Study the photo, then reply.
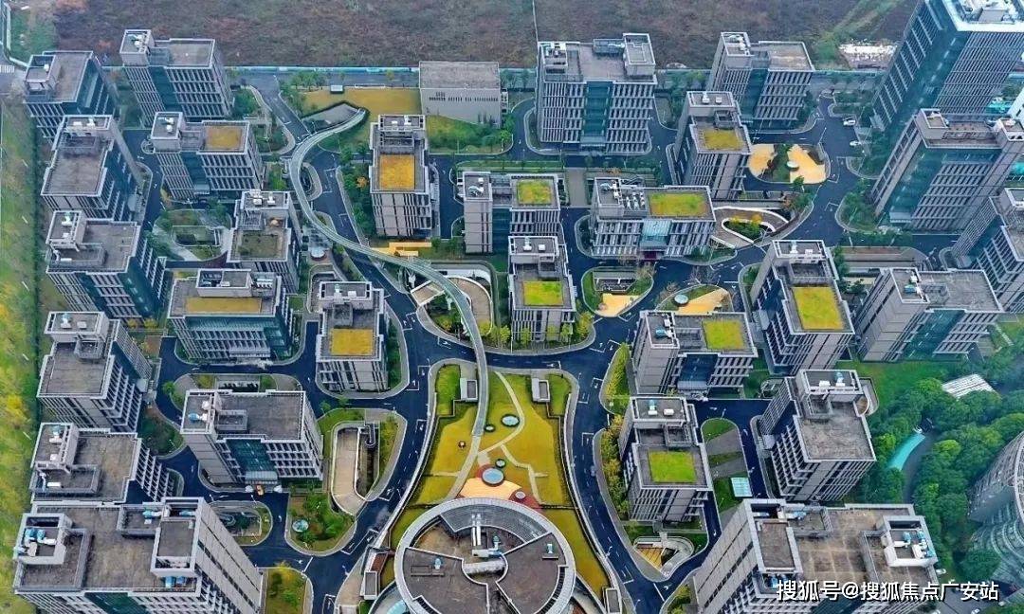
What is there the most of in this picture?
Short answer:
buildings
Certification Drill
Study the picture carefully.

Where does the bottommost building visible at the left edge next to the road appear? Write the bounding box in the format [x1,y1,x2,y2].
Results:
[15,497,260,614]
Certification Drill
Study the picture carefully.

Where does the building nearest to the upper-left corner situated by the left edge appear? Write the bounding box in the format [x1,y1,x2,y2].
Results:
[24,51,117,145]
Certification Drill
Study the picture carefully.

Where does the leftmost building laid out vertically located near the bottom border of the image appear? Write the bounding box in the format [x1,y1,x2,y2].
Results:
[364,572,379,602]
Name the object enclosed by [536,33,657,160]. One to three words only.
building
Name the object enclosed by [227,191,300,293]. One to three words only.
building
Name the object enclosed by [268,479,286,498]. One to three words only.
car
